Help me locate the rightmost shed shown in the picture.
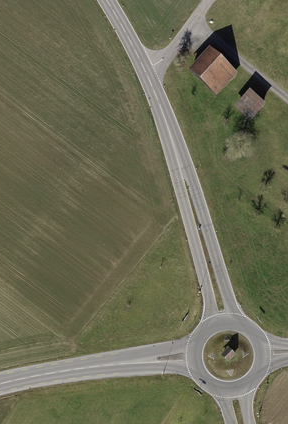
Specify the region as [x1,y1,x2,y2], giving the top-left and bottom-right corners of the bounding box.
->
[235,88,266,119]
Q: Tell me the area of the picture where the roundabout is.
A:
bottom right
